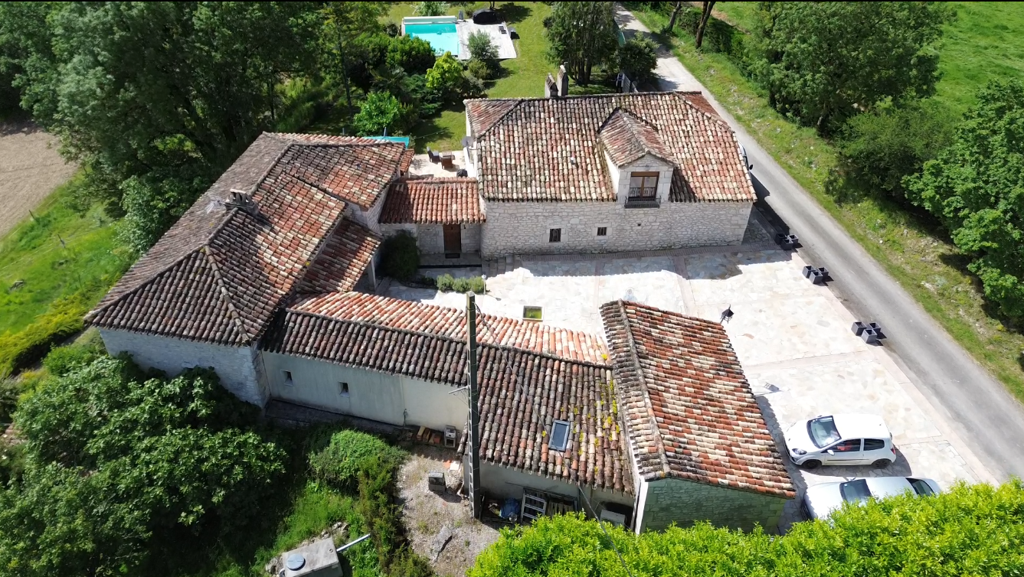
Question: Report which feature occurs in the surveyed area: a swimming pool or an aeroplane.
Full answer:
The one in the frame is a swimming pool.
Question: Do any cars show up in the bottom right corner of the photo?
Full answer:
Yes, a car is visible in the bottom right corner of the photo.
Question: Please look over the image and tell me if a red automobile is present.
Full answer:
No, the frame has no red automobile in it.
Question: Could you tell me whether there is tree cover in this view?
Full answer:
Yes, there's tree cover in this view.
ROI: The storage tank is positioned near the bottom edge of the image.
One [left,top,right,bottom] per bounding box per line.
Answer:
[282,536,345,577]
